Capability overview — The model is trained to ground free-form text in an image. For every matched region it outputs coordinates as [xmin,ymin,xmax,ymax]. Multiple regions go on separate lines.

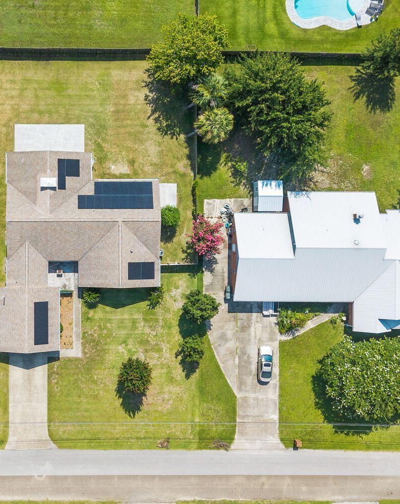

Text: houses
[231,191,400,334]
[0,150,161,354]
